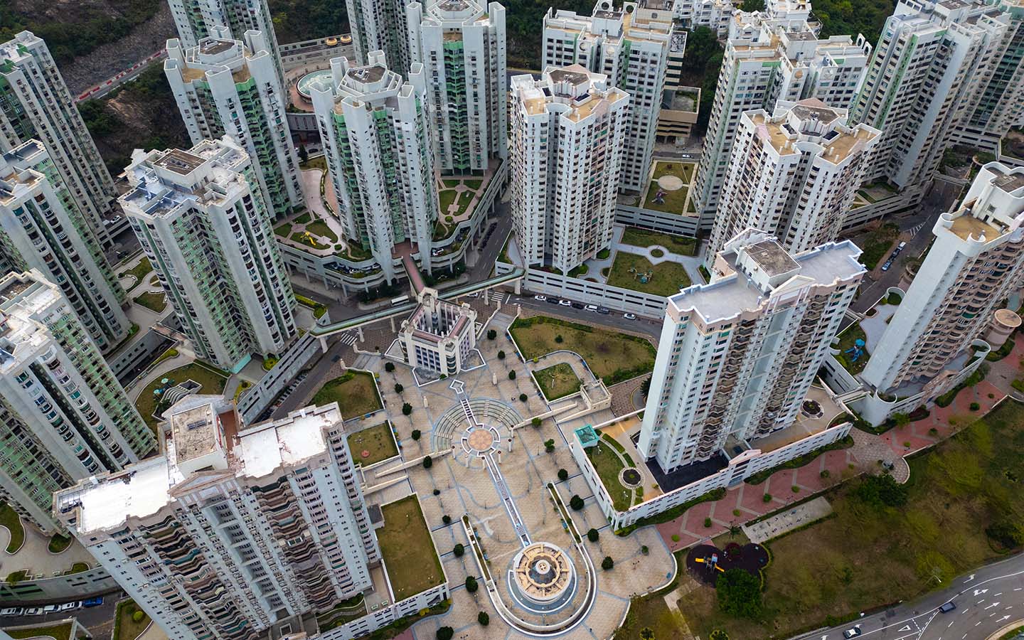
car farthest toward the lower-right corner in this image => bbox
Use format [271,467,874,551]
[938,601,957,614]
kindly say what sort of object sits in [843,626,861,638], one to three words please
vehicle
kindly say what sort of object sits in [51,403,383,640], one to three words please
building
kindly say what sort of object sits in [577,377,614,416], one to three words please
building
